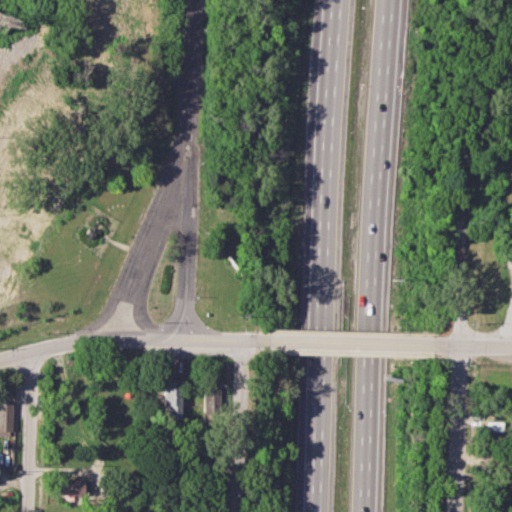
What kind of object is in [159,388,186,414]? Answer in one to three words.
house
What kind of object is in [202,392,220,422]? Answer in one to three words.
house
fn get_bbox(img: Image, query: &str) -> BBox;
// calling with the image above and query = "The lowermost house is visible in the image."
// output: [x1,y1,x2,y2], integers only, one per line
[64,476,88,503]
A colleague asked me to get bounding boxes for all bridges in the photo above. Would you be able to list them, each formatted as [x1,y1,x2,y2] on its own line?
[270,330,438,358]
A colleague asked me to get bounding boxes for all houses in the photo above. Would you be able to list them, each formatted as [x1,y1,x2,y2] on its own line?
[64,476,88,503]
[202,392,220,422]
[486,420,506,432]
[0,404,16,438]
[159,388,186,414]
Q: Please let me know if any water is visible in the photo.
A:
No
